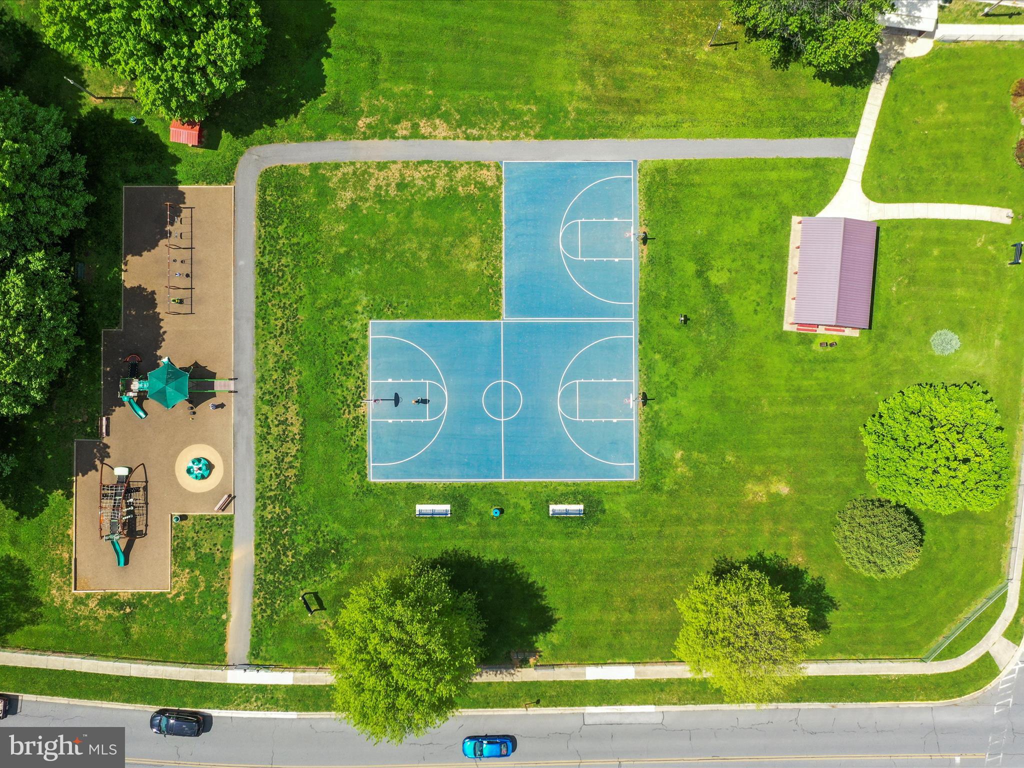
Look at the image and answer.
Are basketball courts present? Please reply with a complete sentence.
Yes, the picture does show a basketball court.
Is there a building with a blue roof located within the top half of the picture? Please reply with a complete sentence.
No, I see no building with a blue roof within the top half of the picture.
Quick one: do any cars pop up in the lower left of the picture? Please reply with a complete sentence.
Yes, looking in the lower left of the picture, one can make out a car.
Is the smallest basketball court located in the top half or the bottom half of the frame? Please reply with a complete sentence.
It is in the top half that the smallest basketball court appears.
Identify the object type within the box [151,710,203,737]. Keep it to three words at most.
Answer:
car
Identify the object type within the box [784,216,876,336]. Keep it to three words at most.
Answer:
building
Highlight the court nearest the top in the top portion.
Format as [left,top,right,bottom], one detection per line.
[502,160,640,320]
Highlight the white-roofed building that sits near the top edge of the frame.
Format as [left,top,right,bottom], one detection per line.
[876,0,939,38]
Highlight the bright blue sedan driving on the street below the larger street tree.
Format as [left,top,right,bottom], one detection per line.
[464,732,513,758]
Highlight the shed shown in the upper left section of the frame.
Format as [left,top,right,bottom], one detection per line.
[168,118,206,150]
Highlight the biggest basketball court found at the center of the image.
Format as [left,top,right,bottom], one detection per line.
[368,320,640,482]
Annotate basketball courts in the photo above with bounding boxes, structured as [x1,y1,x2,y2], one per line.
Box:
[502,160,640,320]
[368,320,640,482]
